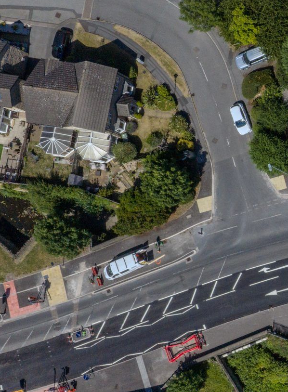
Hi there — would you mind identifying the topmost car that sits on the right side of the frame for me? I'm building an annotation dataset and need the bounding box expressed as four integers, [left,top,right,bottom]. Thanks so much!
[235,49,270,68]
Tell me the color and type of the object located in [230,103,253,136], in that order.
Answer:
white car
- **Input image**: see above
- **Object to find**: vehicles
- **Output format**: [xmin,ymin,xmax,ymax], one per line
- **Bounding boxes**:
[230,103,253,136]
[235,49,270,68]
[105,250,156,279]
[50,26,77,61]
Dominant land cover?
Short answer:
paved ground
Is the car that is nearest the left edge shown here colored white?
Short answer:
No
